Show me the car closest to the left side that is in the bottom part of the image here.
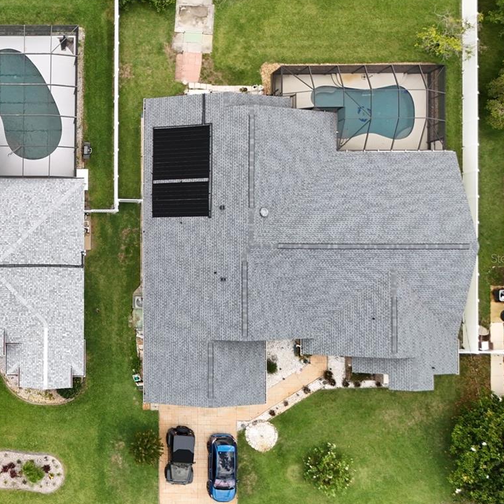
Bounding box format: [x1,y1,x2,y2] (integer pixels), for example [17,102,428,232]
[165,422,201,483]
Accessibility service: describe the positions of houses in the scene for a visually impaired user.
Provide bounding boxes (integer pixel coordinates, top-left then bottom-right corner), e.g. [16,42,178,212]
[141,90,480,410]
[0,177,87,390]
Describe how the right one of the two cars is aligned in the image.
up and down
